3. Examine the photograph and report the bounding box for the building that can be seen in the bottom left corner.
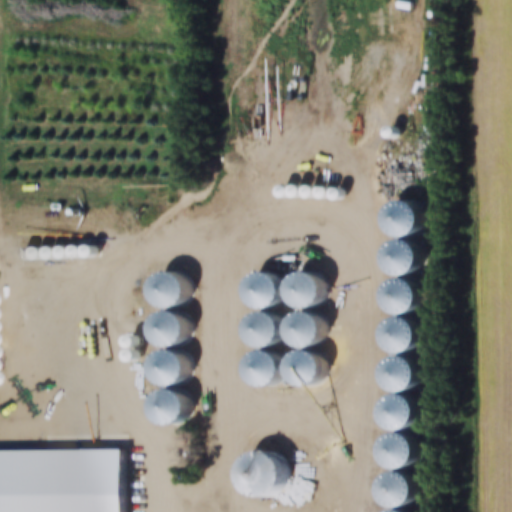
[0,448,128,512]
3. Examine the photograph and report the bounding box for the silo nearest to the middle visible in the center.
[238,271,284,310]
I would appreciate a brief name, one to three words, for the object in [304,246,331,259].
vehicle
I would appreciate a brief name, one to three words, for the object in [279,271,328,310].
silo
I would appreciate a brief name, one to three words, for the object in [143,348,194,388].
silo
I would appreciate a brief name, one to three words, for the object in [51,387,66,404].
vehicle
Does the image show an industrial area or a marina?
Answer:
industrial area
